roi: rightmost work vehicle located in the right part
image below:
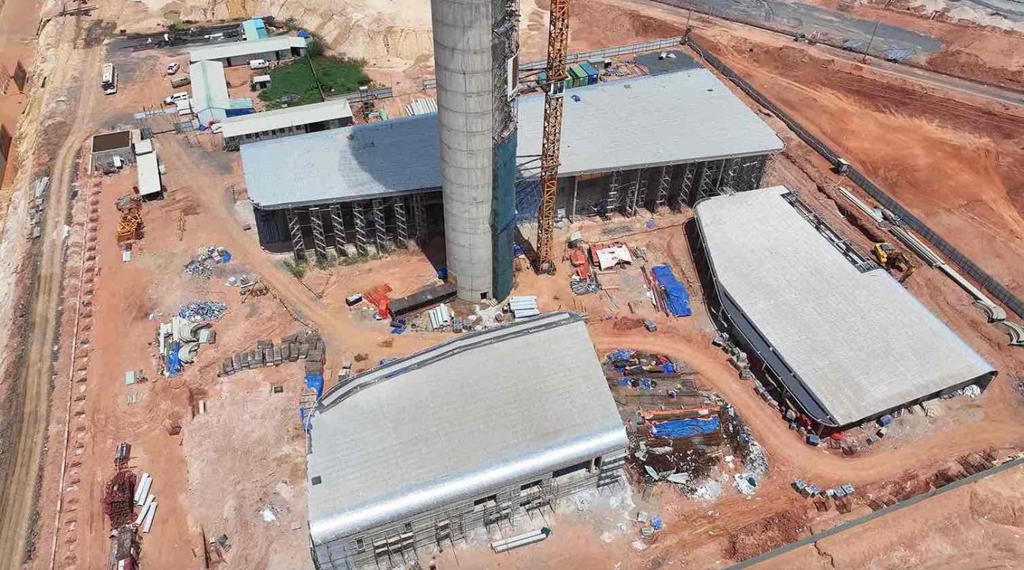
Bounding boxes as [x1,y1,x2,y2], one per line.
[877,249,921,289]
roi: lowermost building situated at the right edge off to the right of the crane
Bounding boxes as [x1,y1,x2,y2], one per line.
[699,187,1002,446]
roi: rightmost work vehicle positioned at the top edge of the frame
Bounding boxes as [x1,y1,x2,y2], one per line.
[796,28,810,40]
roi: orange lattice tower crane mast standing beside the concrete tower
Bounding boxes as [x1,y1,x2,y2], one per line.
[510,0,569,275]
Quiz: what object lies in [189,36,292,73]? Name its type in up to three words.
building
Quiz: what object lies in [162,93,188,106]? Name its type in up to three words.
vehicle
